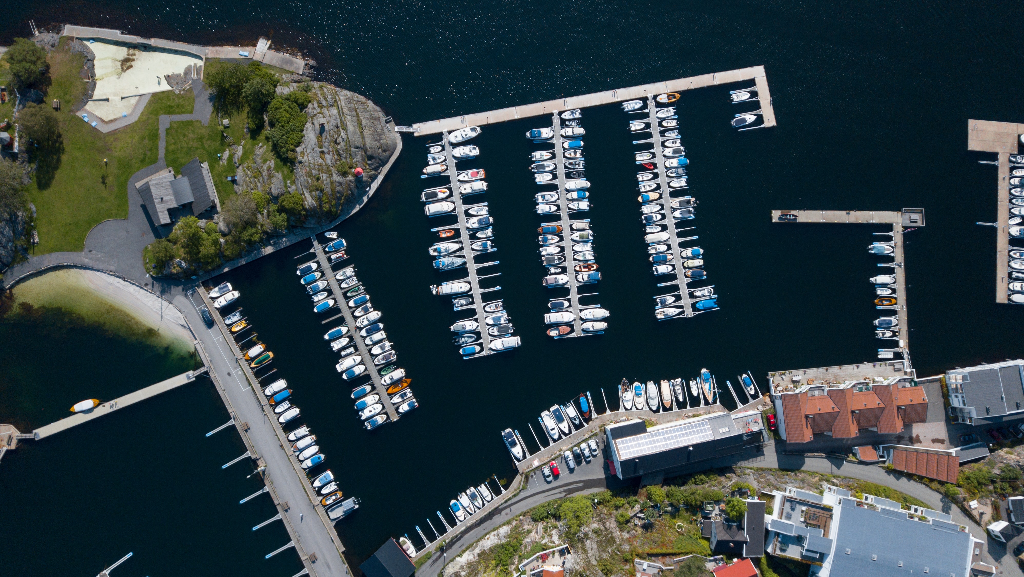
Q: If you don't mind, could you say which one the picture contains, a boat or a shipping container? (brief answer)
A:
boat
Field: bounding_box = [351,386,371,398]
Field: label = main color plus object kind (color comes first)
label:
blue boat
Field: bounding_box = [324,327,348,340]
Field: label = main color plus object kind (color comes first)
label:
blue boat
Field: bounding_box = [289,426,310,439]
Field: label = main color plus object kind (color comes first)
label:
white boat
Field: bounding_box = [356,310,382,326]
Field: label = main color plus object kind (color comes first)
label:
white boat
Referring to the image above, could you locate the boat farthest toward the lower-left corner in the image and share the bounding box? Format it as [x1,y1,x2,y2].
[70,399,100,412]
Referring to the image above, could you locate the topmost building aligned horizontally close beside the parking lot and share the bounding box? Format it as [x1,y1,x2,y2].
[603,410,765,478]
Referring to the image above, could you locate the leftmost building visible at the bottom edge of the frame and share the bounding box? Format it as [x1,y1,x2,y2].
[359,537,416,577]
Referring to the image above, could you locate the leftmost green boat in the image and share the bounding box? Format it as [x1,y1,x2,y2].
[251,353,274,367]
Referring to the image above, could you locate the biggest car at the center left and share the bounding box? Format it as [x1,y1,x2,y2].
[201,308,213,324]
